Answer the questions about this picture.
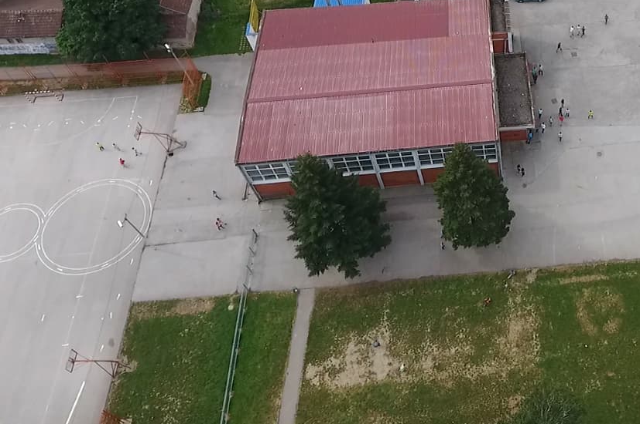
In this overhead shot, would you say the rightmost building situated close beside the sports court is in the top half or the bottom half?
top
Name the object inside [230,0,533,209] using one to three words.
building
